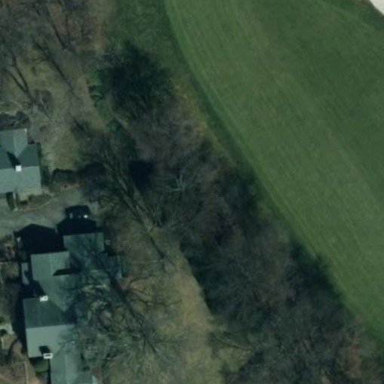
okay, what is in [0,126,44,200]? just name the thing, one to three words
house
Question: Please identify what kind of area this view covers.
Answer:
golf course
